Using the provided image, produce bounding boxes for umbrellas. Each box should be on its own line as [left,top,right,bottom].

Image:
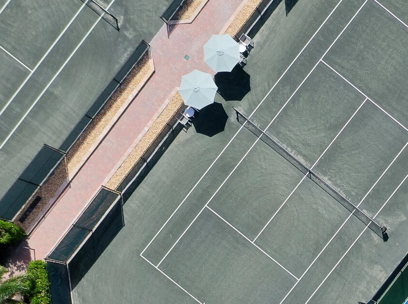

[202,34,242,74]
[180,71,217,109]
